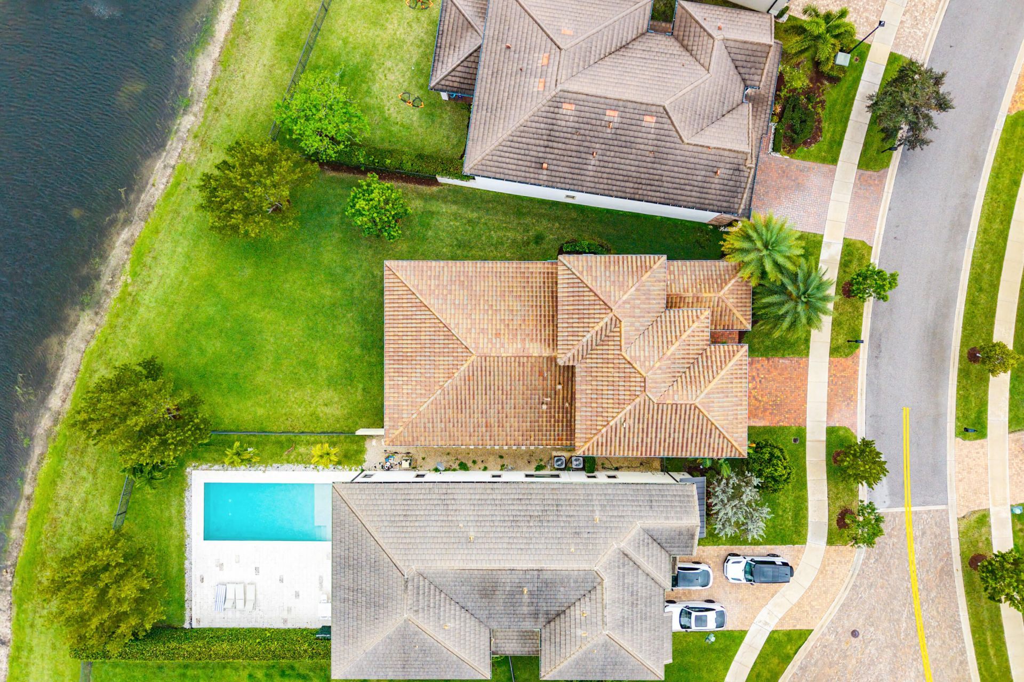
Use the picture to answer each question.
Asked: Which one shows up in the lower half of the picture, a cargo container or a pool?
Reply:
pool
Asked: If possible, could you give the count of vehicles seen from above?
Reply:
3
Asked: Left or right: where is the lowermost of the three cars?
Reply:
right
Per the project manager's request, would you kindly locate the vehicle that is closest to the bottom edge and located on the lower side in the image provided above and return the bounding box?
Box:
[666,599,728,635]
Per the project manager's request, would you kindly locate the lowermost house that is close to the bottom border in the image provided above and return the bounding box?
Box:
[330,464,707,682]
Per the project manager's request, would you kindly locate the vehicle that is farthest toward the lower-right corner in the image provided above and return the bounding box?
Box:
[723,551,796,587]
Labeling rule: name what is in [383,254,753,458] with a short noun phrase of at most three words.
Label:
house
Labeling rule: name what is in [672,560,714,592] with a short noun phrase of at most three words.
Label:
car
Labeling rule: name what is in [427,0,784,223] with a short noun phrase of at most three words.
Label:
house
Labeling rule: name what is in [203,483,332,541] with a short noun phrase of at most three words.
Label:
swimming pool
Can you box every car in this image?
[723,551,796,587]
[672,560,714,592]
[666,599,728,635]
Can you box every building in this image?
[427,0,784,223]
[383,254,753,458]
[330,464,707,682]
